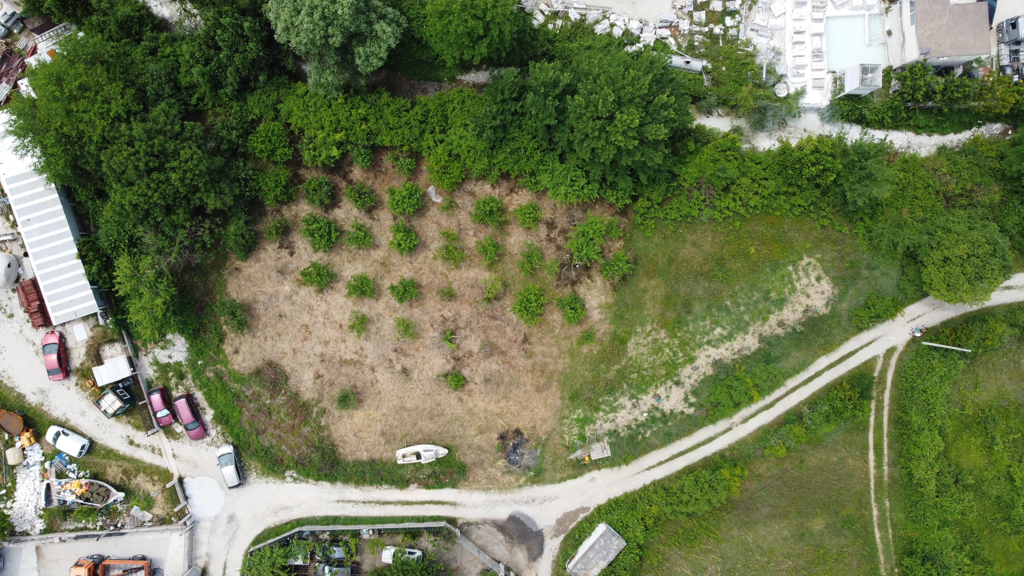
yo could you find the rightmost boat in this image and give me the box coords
[396,444,448,464]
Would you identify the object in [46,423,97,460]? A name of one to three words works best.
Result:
van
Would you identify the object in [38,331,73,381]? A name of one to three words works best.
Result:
car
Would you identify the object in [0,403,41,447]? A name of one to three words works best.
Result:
truck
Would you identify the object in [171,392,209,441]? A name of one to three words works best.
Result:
car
